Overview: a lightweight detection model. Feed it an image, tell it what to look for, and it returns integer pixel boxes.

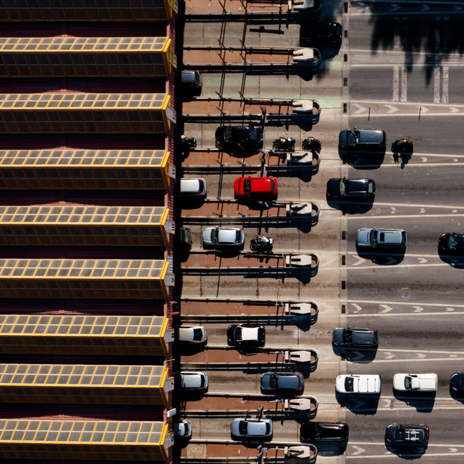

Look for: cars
[333,326,378,349]
[173,370,208,391]
[449,371,464,394]
[174,227,192,247]
[231,417,272,439]
[385,423,428,445]
[326,176,376,198]
[174,177,207,196]
[216,126,263,149]
[300,21,342,46]
[227,325,265,345]
[261,371,304,392]
[173,323,207,345]
[301,420,348,443]
[174,70,202,92]
[173,419,191,438]
[357,227,406,249]
[438,231,464,253]
[339,126,386,149]
[203,225,245,247]
[235,176,278,198]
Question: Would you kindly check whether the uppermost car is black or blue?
black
